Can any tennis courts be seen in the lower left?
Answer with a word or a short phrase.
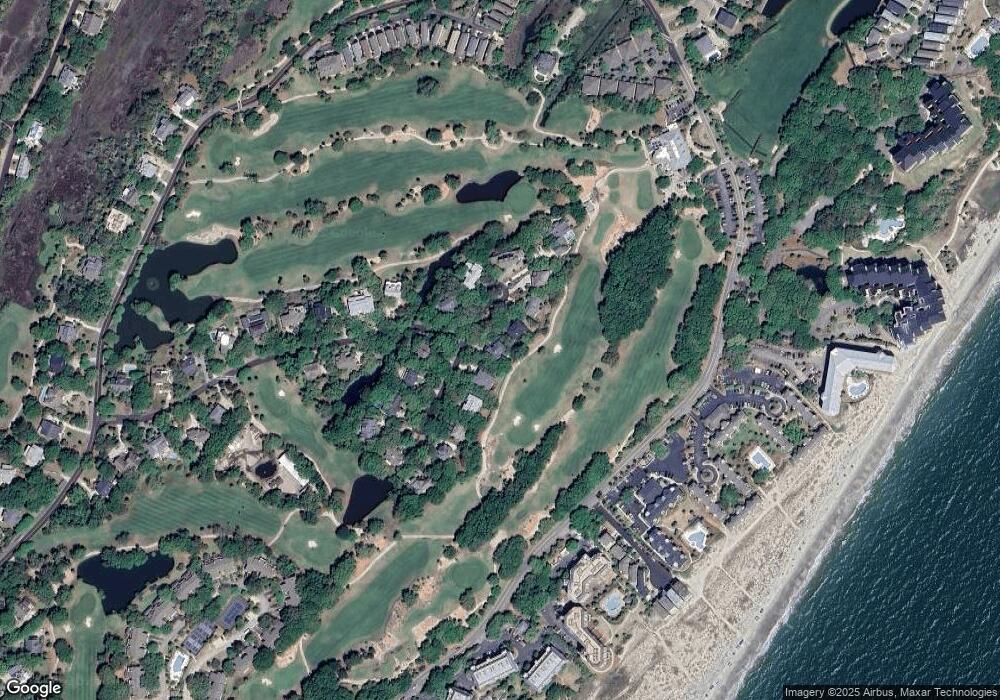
Yes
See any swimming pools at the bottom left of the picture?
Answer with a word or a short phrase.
Yes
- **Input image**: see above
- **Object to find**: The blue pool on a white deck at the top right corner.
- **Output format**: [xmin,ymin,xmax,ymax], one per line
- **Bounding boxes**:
[966,29,991,59]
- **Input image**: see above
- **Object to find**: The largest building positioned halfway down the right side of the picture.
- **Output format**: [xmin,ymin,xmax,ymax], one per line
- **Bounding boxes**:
[849,259,951,347]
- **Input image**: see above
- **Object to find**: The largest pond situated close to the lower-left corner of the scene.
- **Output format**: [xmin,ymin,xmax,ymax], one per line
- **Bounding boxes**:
[77,552,175,615]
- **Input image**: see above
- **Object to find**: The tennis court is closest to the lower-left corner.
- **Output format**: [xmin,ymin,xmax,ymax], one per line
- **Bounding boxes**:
[182,622,216,653]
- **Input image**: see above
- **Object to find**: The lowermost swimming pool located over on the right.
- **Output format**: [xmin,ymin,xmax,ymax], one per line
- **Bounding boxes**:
[603,589,623,614]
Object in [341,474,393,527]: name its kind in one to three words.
pond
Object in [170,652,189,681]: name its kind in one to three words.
swimming pool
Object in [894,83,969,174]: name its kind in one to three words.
building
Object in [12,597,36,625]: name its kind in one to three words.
house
